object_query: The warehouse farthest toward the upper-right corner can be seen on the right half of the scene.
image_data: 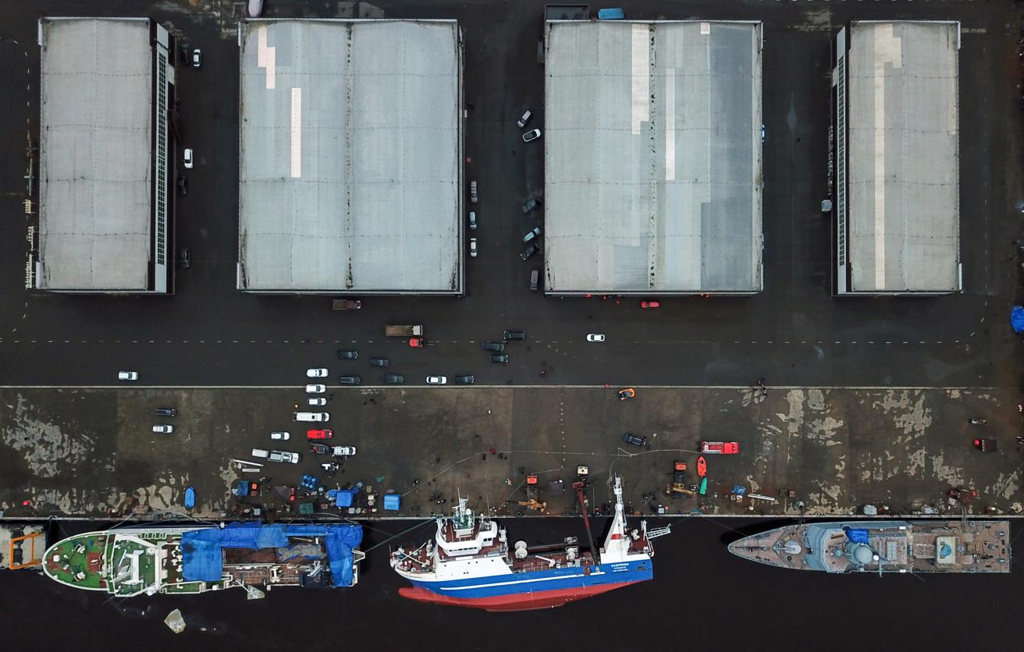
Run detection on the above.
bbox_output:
[828,19,965,297]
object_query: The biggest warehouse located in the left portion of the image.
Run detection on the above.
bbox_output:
[234,17,466,297]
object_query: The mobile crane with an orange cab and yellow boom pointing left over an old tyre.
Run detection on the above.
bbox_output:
[489,473,544,511]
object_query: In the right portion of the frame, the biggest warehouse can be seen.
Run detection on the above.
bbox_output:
[541,19,766,297]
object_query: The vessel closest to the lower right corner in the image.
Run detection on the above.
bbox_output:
[729,520,1012,578]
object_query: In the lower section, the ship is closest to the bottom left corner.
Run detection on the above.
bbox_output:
[0,524,48,570]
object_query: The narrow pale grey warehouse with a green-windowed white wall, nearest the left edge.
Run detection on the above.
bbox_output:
[32,16,177,295]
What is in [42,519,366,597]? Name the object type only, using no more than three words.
vessel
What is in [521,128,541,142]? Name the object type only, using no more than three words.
car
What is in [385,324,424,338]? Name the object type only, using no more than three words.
vehicle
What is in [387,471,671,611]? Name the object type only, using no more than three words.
vessel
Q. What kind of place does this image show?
industrial area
